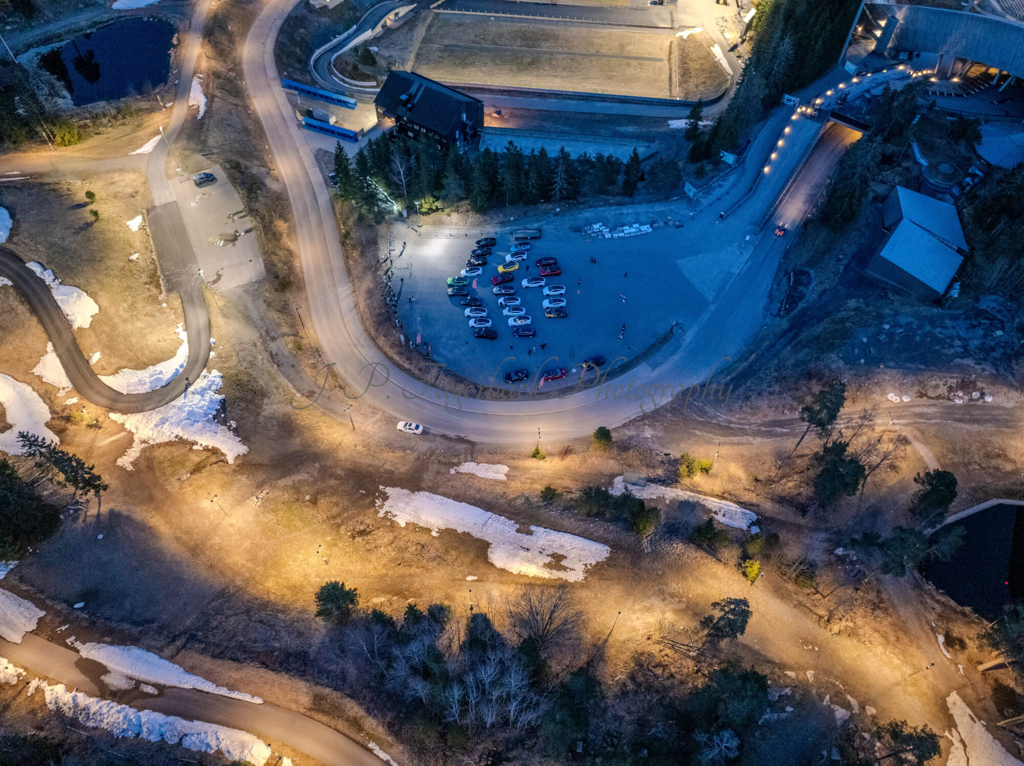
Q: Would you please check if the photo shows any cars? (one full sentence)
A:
Yes, I can see a car in this picture.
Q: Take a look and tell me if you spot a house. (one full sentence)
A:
Yes, there's a house down there.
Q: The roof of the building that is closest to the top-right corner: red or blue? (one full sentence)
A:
From above, the roof of the building that is closest to the top-right corner appears blue.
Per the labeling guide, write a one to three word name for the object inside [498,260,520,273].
vehicle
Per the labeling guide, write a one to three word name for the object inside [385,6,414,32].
shed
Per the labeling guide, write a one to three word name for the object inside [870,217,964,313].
house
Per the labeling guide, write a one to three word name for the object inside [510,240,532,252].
vehicle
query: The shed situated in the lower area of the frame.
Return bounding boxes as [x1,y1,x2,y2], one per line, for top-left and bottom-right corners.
[622,471,647,490]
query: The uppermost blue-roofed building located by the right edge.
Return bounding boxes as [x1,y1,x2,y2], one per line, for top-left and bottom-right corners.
[864,0,1024,91]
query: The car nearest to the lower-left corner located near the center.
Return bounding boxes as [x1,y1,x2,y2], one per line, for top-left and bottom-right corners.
[397,420,424,435]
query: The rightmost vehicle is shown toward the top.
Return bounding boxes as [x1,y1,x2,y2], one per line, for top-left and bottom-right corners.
[774,222,787,237]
